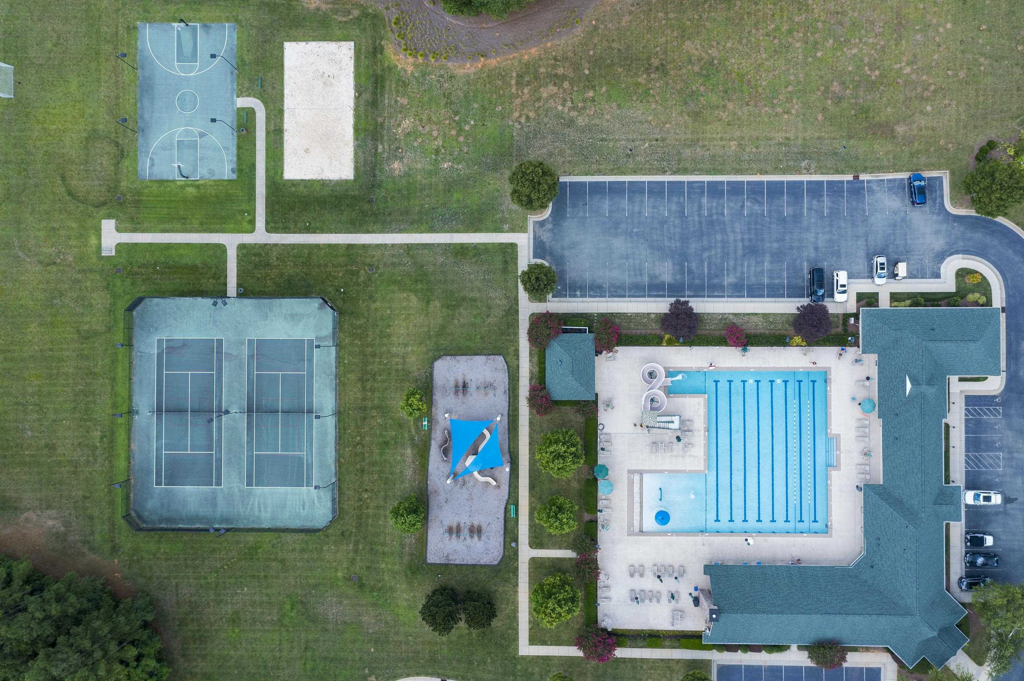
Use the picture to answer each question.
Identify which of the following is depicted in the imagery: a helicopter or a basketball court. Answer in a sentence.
Looking from above, you can make out a basketball court.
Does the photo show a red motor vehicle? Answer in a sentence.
No, no red motor vehicle is visible in the scene.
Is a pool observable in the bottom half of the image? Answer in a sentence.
Yes, the scene does show a pool in the bottom half of the image.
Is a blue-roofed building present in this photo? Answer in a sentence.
Yes, a blue-roofed building can be made out from above.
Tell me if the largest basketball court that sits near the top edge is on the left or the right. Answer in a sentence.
You can find the largest basketball court that sits near the top edge on the left side of the picture.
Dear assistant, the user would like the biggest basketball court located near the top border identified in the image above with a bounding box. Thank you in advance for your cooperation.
[138,23,237,179]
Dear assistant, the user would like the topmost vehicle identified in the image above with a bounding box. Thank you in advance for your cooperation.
[909,174,928,206]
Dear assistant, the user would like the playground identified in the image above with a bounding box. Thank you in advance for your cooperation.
[425,354,511,567]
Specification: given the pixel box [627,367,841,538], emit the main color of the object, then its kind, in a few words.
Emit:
blue swimming pool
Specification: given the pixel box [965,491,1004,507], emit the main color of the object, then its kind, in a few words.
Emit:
white car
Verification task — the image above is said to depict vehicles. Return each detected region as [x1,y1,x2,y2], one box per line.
[909,174,928,206]
[969,534,996,549]
[833,271,850,301]
[892,262,906,278]
[961,577,993,592]
[872,255,889,285]
[809,268,827,302]
[965,491,1004,507]
[968,554,1002,570]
